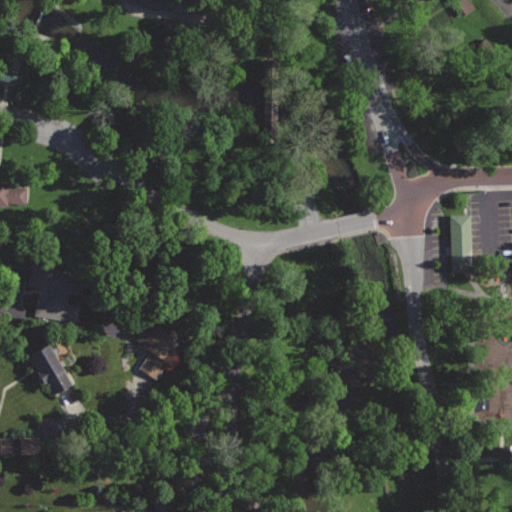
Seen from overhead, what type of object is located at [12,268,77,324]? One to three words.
house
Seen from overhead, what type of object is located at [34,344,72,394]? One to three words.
house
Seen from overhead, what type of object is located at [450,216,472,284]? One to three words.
building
